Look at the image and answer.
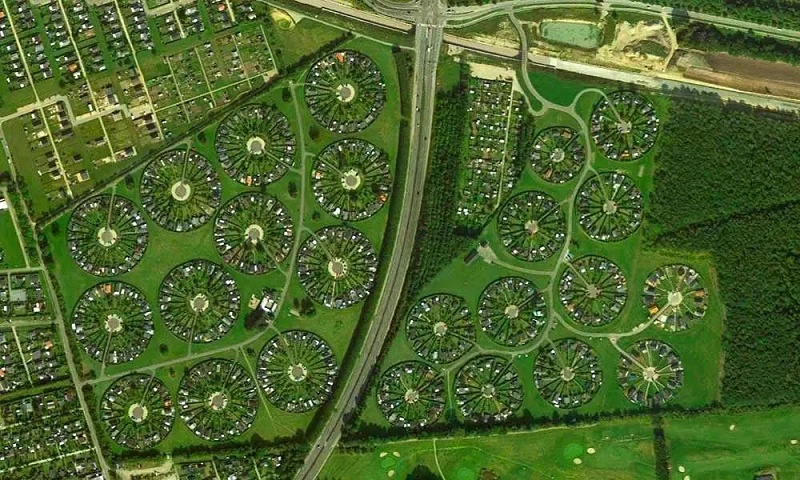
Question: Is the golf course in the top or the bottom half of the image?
bottom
